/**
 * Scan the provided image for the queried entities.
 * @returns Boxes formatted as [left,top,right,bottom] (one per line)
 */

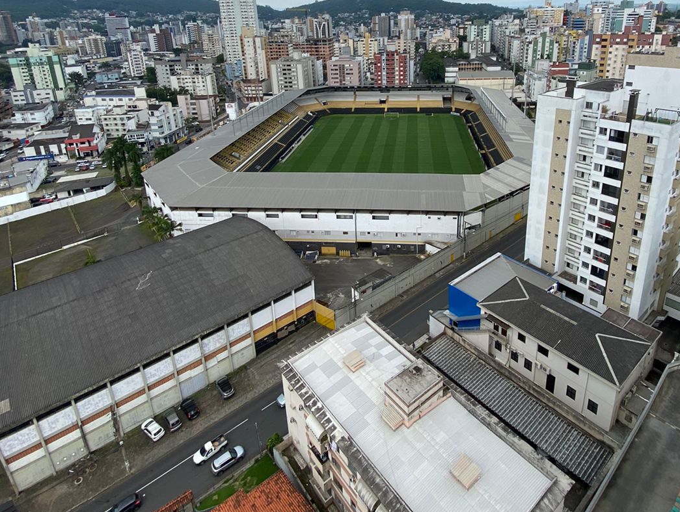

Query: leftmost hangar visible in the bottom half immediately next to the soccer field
[0,212,322,493]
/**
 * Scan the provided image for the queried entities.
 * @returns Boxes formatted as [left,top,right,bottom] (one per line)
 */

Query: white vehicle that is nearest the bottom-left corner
[139,420,166,445]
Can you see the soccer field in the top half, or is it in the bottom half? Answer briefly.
top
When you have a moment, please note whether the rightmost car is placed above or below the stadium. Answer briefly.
below it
